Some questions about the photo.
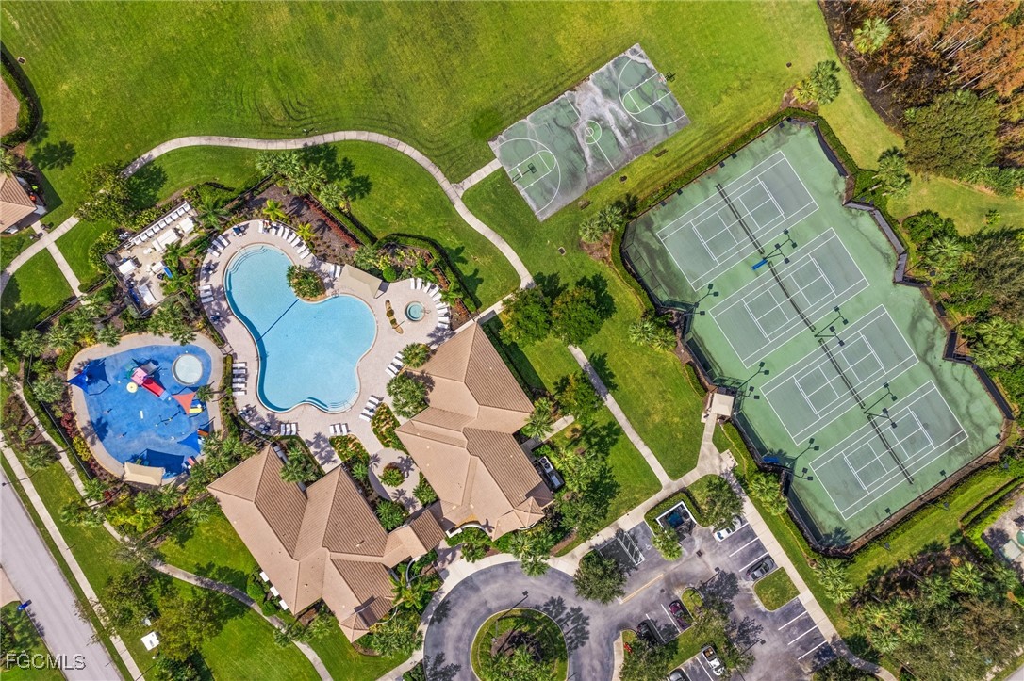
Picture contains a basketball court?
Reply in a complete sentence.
Yes, the photo shows a basketball court.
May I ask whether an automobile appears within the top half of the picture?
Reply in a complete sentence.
No, looking within the top half of the picture, there is no automobile.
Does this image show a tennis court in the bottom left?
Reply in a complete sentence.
No, I see no tennis court in the bottom left.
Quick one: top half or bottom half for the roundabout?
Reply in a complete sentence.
The roundabout sits in the bottom half of the picture.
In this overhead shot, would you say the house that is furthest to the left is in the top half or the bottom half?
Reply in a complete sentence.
The house that is furthest to the left sits in the top half of the picture.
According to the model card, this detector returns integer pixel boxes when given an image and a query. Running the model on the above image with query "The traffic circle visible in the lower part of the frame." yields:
[470,607,569,681]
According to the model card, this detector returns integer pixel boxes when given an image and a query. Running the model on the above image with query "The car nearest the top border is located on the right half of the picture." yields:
[714,516,744,540]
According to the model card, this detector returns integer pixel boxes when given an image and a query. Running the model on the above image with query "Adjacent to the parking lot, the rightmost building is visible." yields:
[394,322,553,541]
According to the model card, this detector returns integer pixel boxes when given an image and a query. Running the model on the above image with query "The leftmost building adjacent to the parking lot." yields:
[206,443,446,644]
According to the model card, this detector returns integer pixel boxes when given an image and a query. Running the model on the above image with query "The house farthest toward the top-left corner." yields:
[0,172,45,241]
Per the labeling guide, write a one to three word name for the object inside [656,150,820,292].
tennis court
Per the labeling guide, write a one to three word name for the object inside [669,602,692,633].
car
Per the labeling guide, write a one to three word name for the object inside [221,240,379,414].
swimming pool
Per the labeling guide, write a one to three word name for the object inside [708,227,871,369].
tennis court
